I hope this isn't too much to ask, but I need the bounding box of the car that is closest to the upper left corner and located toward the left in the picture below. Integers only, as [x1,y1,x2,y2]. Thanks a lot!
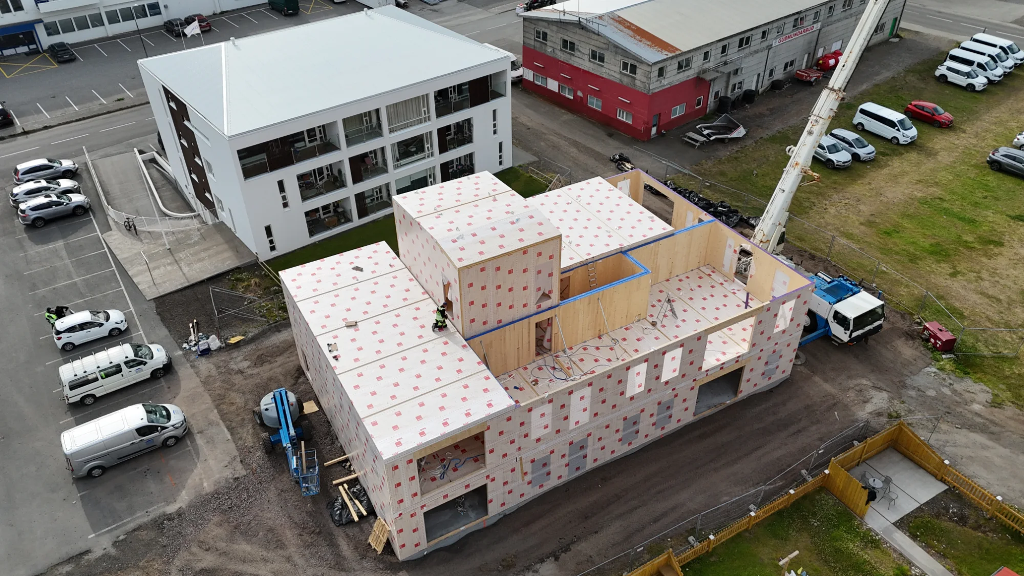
[47,39,76,62]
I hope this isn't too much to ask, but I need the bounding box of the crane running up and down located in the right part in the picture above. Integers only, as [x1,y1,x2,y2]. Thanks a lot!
[717,0,891,363]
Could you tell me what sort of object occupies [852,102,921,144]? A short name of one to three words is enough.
van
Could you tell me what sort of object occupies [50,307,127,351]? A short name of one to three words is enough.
car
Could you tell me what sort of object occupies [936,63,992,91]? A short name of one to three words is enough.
car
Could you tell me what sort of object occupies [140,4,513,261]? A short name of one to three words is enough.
house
